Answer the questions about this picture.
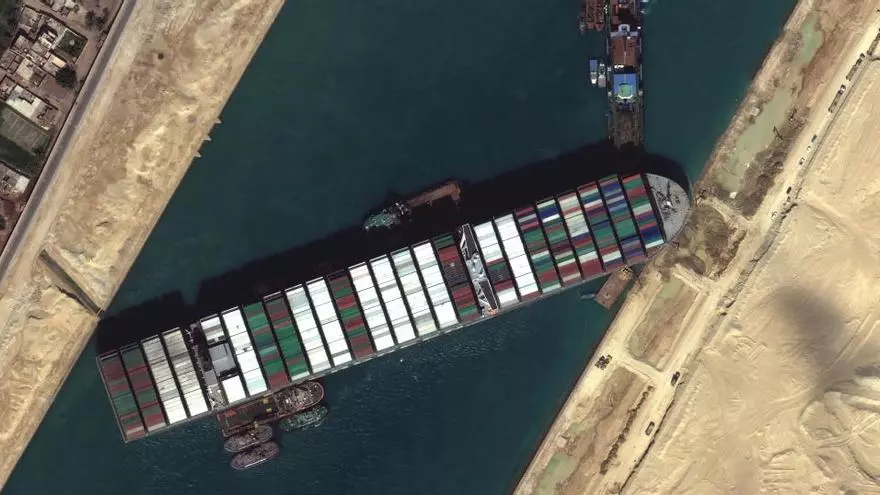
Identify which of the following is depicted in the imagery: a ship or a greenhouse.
ship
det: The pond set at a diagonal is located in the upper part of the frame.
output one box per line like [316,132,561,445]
[716,14,821,193]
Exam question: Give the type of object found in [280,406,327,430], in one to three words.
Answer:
boat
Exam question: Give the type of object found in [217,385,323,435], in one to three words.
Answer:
vessel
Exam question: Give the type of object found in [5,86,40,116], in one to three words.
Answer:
house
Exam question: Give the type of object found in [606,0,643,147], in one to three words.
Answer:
ship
